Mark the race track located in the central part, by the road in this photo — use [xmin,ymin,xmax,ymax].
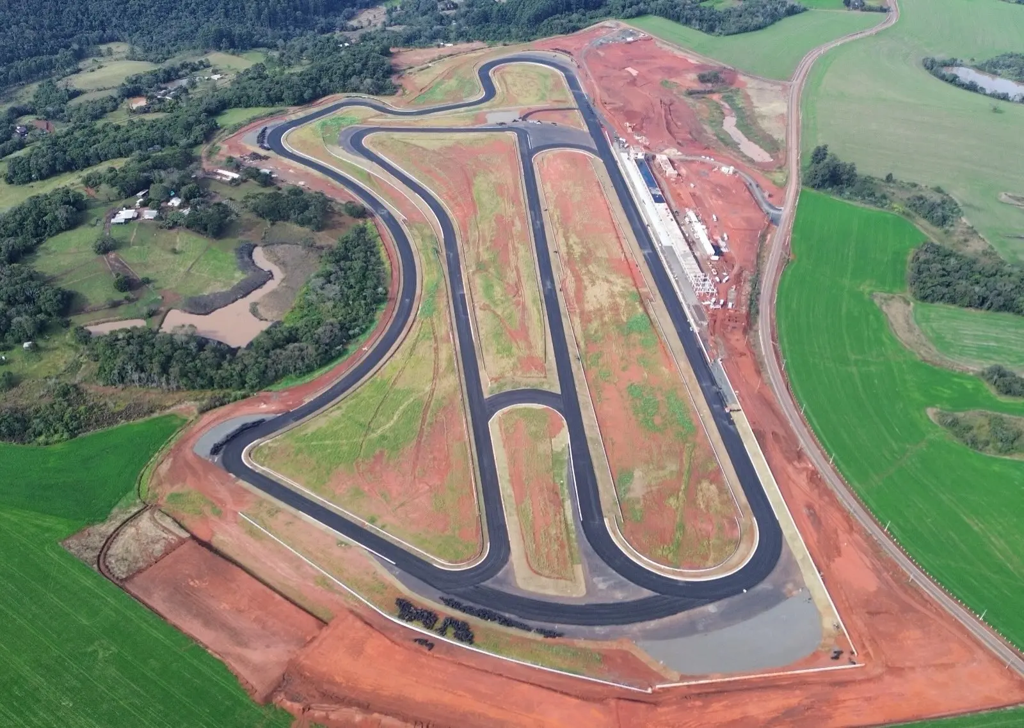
[224,57,781,598]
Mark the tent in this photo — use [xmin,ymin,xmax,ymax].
[687,210,715,258]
